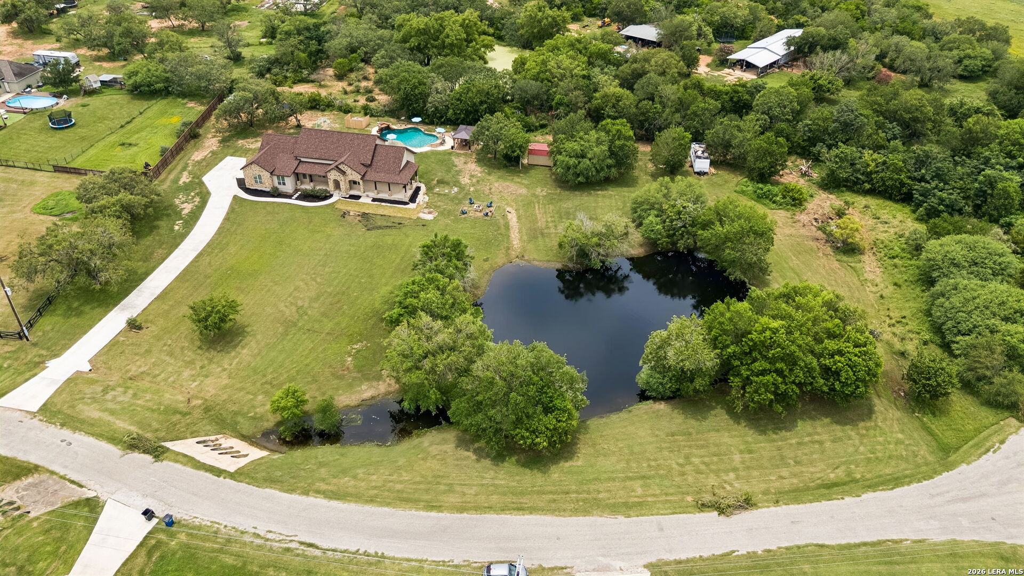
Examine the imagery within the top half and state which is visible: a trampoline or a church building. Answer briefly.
trampoline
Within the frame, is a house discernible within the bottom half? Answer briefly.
No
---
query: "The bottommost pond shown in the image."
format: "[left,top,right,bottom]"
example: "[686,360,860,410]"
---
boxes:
[480,251,746,419]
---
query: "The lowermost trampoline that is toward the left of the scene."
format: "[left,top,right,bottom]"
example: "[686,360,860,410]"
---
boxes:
[45,105,76,129]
